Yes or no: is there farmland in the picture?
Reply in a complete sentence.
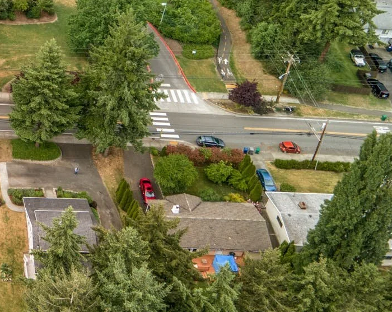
No, no farmland is visible.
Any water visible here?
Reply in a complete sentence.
No, the picture contains no water.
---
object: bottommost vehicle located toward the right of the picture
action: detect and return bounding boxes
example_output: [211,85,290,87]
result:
[257,165,276,188]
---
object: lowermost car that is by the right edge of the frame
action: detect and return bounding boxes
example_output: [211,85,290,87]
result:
[370,76,392,95]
